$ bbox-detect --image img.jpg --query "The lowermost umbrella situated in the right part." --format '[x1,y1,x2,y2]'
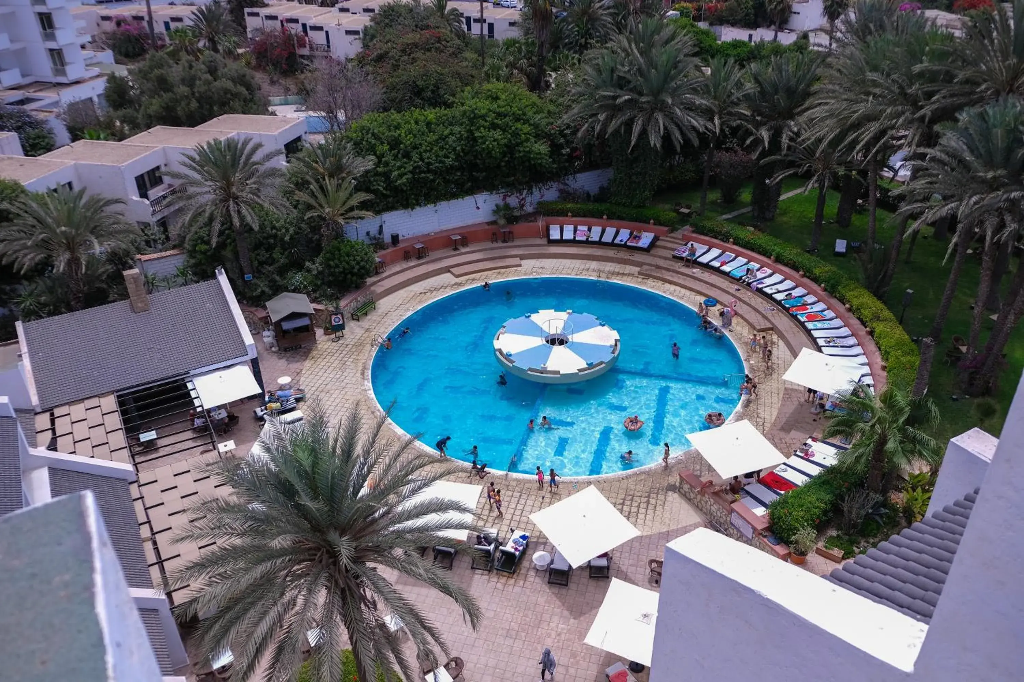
[569,573,661,682]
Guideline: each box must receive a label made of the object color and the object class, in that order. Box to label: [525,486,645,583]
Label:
white umbrella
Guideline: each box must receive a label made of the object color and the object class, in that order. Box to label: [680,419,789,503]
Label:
white umbrella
